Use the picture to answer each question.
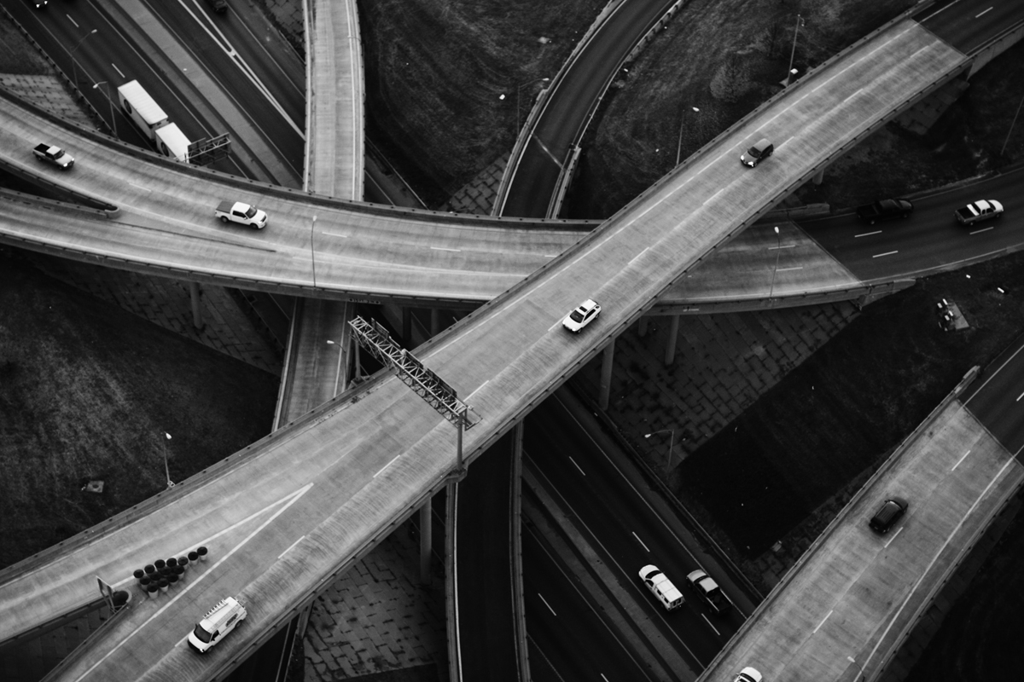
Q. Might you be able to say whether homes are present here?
No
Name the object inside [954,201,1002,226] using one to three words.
truck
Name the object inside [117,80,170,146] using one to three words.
trailer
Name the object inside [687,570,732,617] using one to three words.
truck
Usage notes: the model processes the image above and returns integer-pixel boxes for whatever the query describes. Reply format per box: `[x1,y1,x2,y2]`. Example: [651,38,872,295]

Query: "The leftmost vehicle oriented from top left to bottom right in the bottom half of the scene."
[638,565,685,614]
